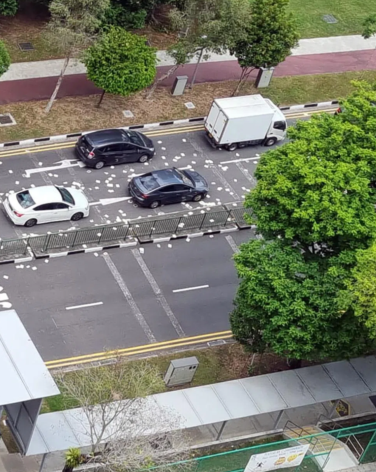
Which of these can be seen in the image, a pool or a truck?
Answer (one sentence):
Looking from above, you can make out a truck.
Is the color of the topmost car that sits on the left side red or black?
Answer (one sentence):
The color of the topmost car that sits on the left side is black.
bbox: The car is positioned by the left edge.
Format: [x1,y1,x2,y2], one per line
[4,183,94,228]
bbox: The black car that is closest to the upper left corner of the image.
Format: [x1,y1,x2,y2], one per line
[75,127,161,170]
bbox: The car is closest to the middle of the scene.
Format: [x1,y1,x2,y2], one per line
[128,166,214,210]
